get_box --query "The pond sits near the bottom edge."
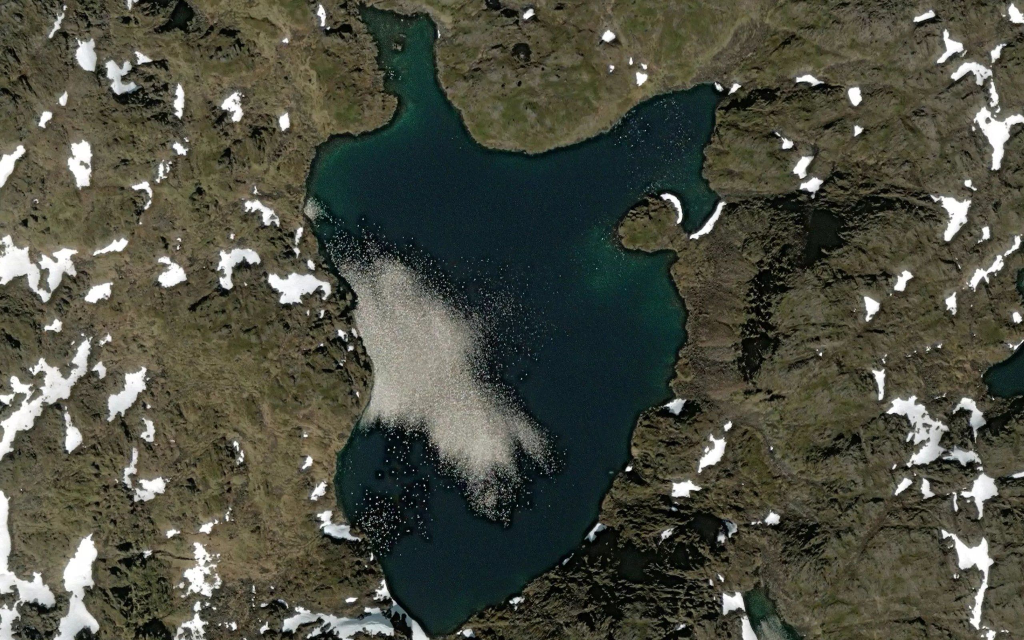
[744,586,804,640]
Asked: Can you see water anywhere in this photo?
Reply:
Yes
